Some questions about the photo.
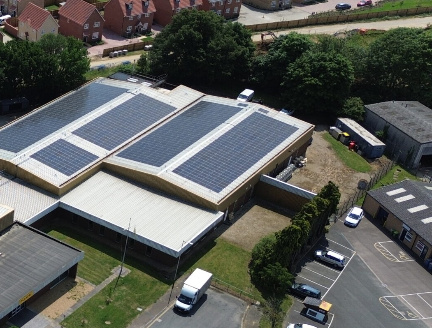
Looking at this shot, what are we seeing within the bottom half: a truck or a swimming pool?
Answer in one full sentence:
There is a truck within the bottom half.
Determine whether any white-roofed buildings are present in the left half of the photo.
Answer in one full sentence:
Yes, you'll find a white-roofed building in the left half of the photo.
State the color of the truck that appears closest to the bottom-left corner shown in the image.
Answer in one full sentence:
The truck that appears closest to the bottom-left corner is white.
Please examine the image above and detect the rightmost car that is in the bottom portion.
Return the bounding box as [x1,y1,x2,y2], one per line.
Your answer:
[345,209,364,227]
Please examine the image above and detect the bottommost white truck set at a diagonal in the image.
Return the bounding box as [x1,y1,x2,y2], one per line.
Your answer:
[173,267,213,315]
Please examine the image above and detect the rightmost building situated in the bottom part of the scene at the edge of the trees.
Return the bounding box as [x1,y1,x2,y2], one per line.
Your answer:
[363,176,432,258]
